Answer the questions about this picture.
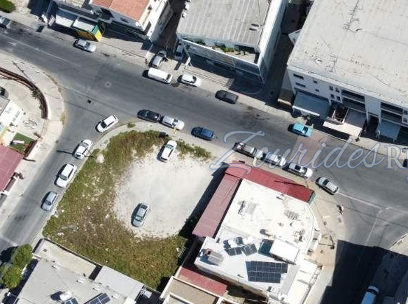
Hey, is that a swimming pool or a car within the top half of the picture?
car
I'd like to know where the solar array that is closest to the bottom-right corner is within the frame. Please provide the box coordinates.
[246,261,288,283]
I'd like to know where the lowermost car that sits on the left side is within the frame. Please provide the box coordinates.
[130,201,149,229]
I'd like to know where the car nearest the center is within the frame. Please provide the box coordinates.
[190,127,214,141]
